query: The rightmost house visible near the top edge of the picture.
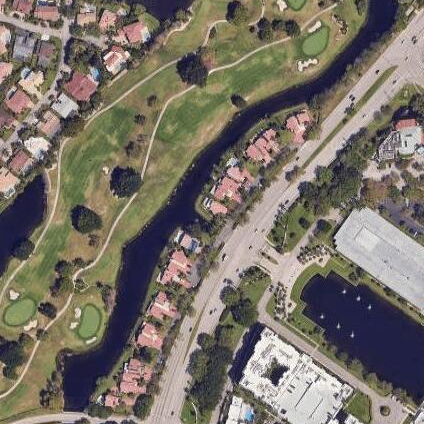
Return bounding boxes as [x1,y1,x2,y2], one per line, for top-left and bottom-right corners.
[124,20,150,45]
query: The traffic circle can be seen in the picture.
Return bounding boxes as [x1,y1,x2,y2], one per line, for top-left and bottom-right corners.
[368,395,403,424]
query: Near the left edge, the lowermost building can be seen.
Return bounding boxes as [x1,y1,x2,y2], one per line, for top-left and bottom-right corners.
[0,168,20,194]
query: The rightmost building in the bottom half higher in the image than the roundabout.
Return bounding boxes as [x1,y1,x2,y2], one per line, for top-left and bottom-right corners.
[335,207,424,310]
